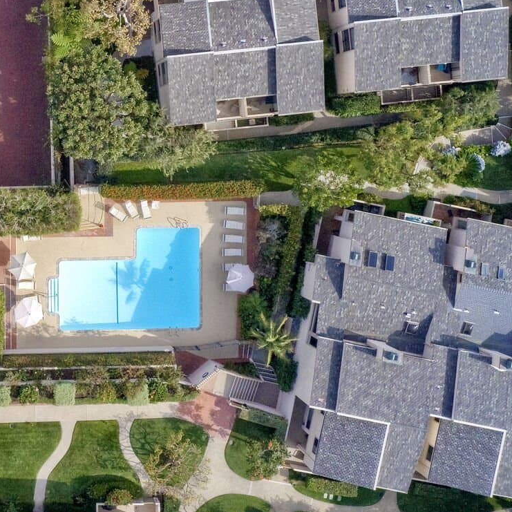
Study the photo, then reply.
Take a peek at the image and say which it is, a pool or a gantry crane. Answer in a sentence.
The image shows a pool.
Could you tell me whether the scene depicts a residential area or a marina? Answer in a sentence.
It's a residential area.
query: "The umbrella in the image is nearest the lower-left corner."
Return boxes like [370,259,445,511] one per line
[13,296,44,327]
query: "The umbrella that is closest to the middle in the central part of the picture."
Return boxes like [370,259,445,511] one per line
[224,263,255,293]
